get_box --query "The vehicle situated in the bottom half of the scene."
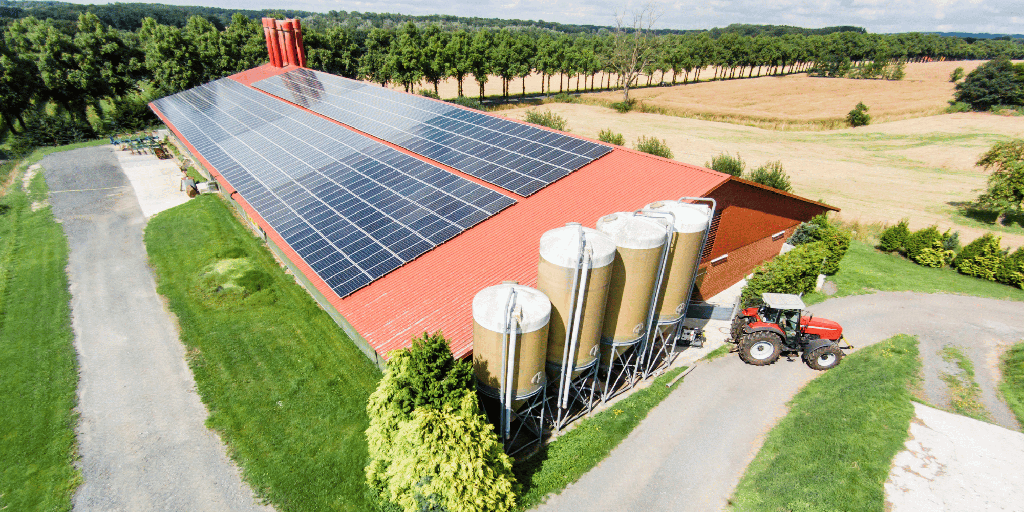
[720,294,857,372]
